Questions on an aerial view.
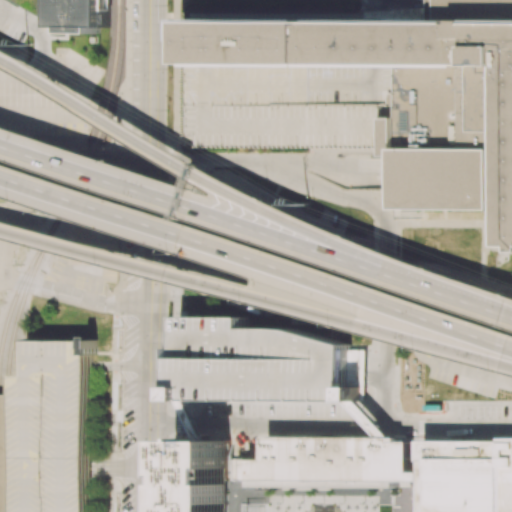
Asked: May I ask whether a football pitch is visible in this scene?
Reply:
No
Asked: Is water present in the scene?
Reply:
No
